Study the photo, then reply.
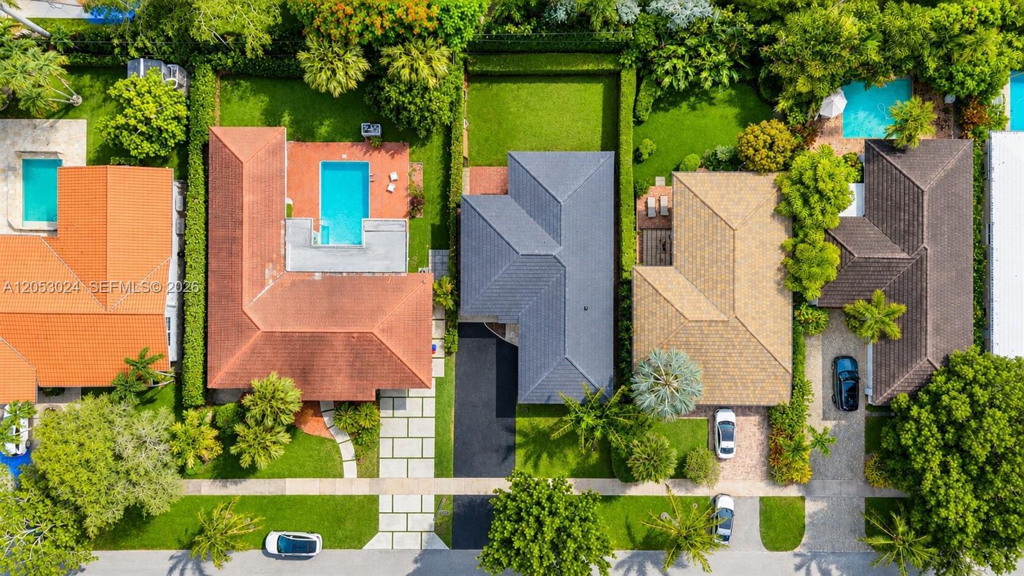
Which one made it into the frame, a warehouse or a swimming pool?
swimming pool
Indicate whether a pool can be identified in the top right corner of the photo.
Yes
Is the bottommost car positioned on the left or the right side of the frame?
left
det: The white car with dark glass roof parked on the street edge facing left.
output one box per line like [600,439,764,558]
[268,529,321,559]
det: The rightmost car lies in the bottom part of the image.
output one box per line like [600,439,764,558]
[830,356,862,411]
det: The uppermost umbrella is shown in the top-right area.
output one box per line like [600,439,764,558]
[818,91,844,117]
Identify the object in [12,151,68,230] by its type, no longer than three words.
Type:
swimming pool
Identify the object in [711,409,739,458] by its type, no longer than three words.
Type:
car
